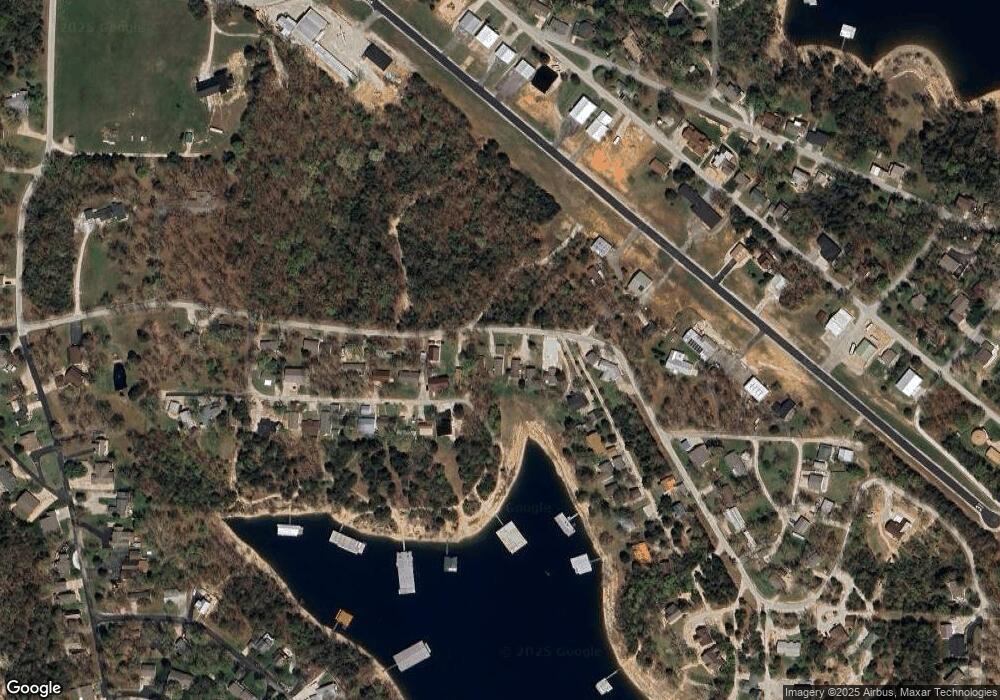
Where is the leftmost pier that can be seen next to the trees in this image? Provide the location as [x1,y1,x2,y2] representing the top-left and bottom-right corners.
[277,509,305,537]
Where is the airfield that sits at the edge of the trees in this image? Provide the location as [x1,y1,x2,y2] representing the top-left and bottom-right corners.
[354,0,1000,531]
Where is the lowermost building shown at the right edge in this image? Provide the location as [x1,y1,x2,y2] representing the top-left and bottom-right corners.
[945,672,970,696]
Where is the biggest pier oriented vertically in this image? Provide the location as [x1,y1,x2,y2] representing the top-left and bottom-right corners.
[396,537,414,595]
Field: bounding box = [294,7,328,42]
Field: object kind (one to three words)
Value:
building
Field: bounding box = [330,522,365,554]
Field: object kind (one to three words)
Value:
pier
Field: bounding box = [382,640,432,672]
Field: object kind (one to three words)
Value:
pier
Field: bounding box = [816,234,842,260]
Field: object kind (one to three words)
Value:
house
